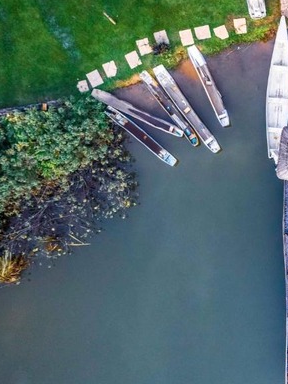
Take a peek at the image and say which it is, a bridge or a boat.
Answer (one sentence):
I can see a boat in this picture.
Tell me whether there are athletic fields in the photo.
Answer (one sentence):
No, the frame has no athletic field in it.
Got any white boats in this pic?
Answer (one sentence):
Yes, there's a white boat down there.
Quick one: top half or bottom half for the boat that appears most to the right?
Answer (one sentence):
You can find the boat that appears most to the right in the top half.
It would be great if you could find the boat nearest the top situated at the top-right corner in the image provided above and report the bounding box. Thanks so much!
[248,0,267,19]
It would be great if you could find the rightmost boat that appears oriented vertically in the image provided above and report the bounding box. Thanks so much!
[267,15,288,168]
